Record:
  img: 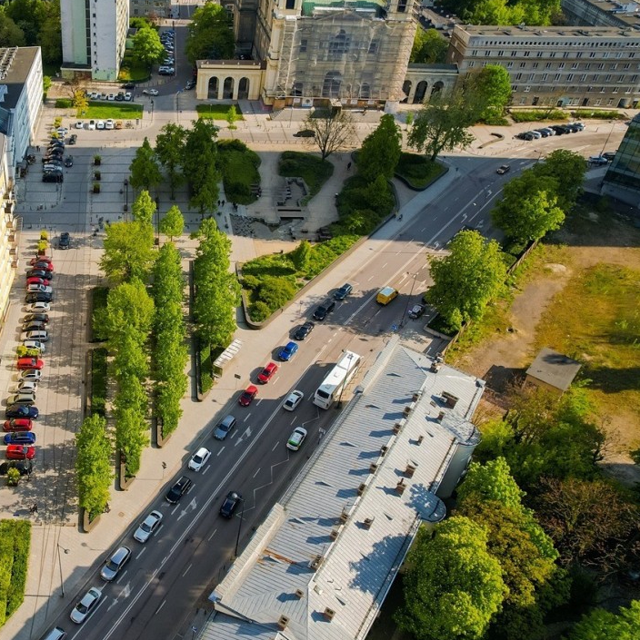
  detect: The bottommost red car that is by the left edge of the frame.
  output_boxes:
[5,445,36,460]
